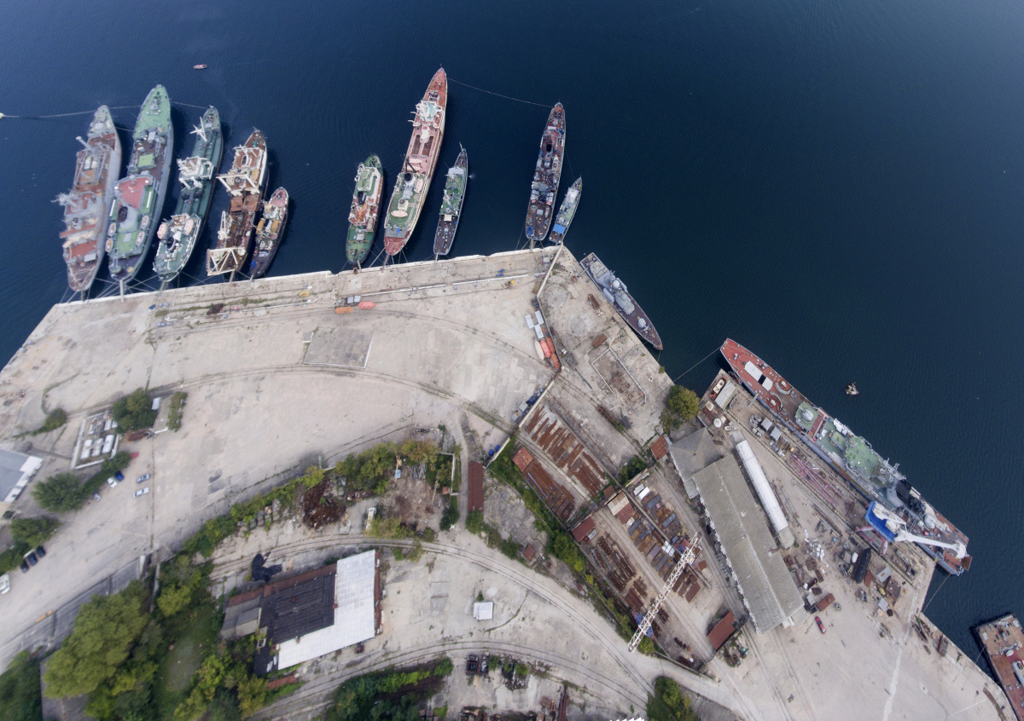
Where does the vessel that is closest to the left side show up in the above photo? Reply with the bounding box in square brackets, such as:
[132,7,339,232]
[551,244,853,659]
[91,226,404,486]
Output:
[52,101,124,291]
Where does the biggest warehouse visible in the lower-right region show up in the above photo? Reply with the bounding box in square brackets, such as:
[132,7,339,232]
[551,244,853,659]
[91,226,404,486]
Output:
[691,453,803,633]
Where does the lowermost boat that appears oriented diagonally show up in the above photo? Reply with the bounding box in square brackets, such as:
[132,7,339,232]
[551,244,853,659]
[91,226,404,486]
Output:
[983,688,1005,721]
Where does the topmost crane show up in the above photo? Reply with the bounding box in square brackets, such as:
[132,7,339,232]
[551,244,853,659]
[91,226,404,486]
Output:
[854,501,966,563]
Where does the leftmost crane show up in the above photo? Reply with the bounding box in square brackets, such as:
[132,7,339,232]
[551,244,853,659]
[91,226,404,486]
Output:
[626,533,705,655]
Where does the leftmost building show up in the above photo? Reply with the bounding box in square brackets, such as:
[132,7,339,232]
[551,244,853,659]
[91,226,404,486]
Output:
[0,447,54,503]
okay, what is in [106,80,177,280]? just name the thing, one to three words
ship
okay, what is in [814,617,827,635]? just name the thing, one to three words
vehicle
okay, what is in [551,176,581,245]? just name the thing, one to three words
vessel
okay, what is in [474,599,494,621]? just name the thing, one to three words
shed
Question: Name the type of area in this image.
port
